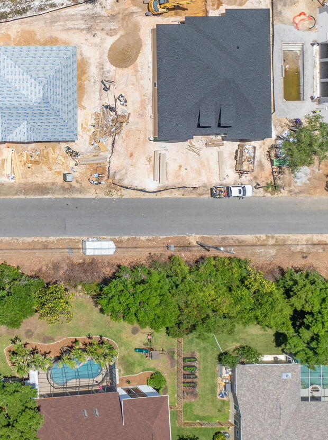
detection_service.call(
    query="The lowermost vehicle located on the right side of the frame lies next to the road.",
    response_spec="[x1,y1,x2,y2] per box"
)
[212,185,255,202]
